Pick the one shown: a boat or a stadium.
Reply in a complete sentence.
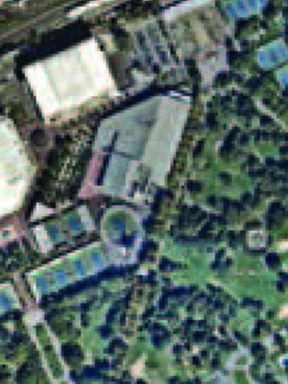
It is a stadium that can be seen here.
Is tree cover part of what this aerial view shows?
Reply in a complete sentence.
Yes, tree cover can be seen from above here.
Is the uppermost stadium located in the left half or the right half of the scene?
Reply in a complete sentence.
The uppermost stadium appears in the left half of the scene.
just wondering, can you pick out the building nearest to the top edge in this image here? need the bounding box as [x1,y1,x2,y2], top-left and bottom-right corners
[165,0,214,21]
